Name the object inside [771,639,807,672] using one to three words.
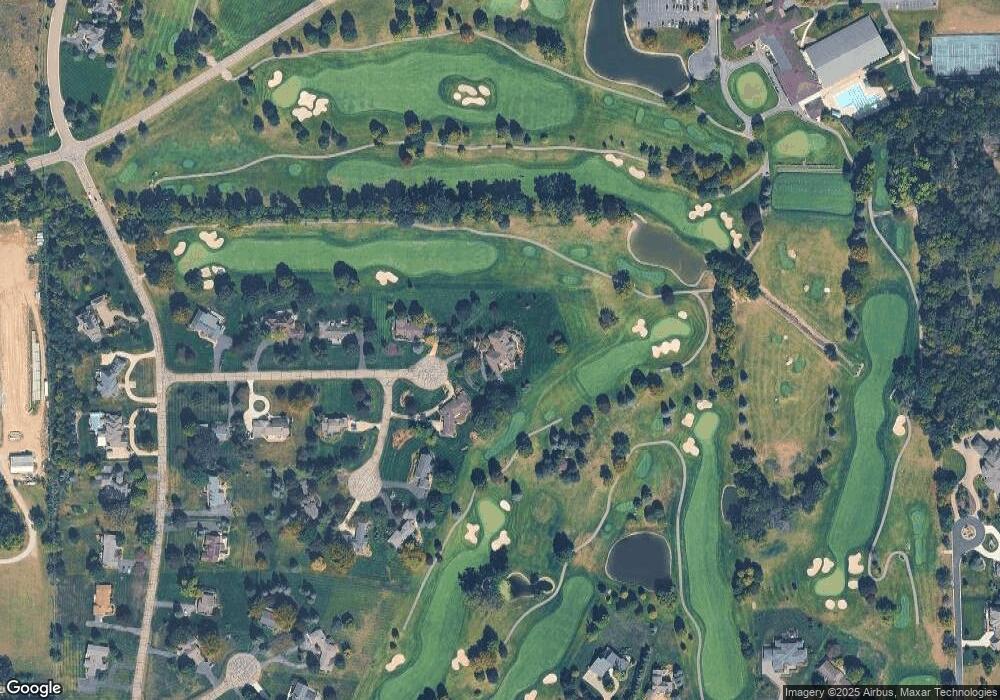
house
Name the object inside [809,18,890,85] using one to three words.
building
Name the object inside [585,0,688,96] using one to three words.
pond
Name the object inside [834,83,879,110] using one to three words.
swimming pool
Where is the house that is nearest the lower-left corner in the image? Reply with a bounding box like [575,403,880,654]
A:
[82,644,110,678]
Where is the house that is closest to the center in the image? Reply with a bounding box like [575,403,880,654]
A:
[481,328,520,373]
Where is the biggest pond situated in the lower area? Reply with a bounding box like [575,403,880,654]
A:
[606,532,671,590]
